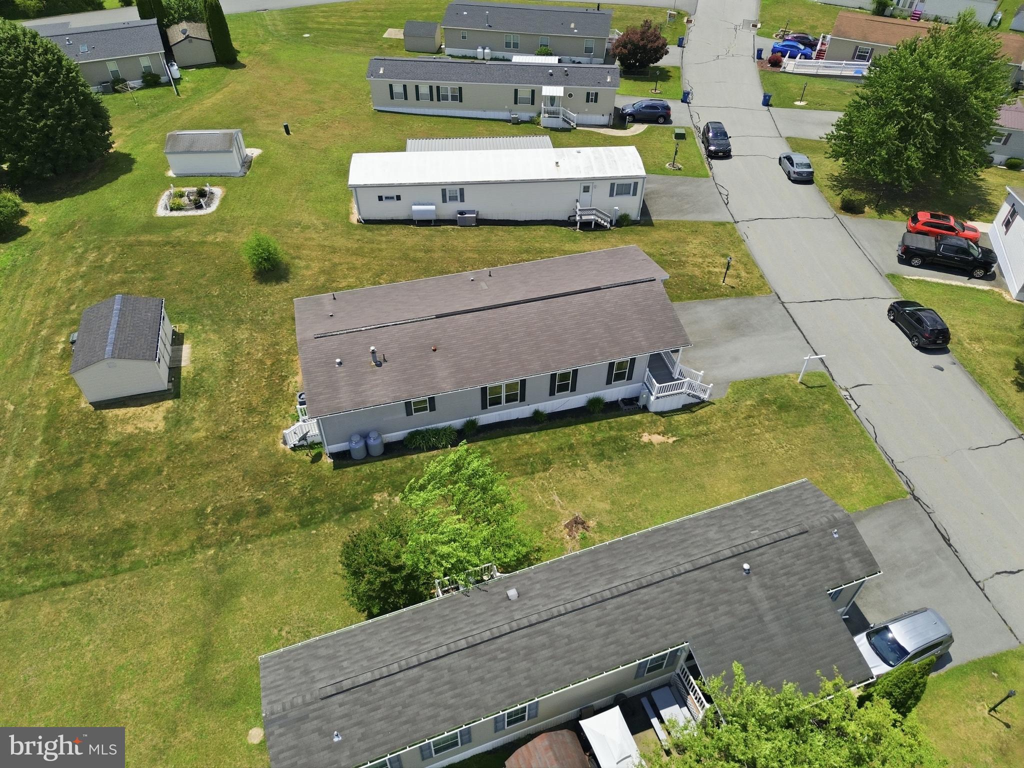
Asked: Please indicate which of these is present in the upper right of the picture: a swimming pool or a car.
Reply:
car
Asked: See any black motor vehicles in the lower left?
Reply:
No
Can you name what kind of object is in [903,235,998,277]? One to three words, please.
truck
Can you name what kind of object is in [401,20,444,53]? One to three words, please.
shed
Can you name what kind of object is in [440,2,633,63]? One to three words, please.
house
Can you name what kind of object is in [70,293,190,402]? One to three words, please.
shed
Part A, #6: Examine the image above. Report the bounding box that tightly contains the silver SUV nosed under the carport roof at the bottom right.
[850,606,958,688]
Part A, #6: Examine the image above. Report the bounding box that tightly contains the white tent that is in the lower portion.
[579,706,646,768]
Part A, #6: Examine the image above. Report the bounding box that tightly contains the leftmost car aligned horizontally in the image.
[620,98,673,123]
